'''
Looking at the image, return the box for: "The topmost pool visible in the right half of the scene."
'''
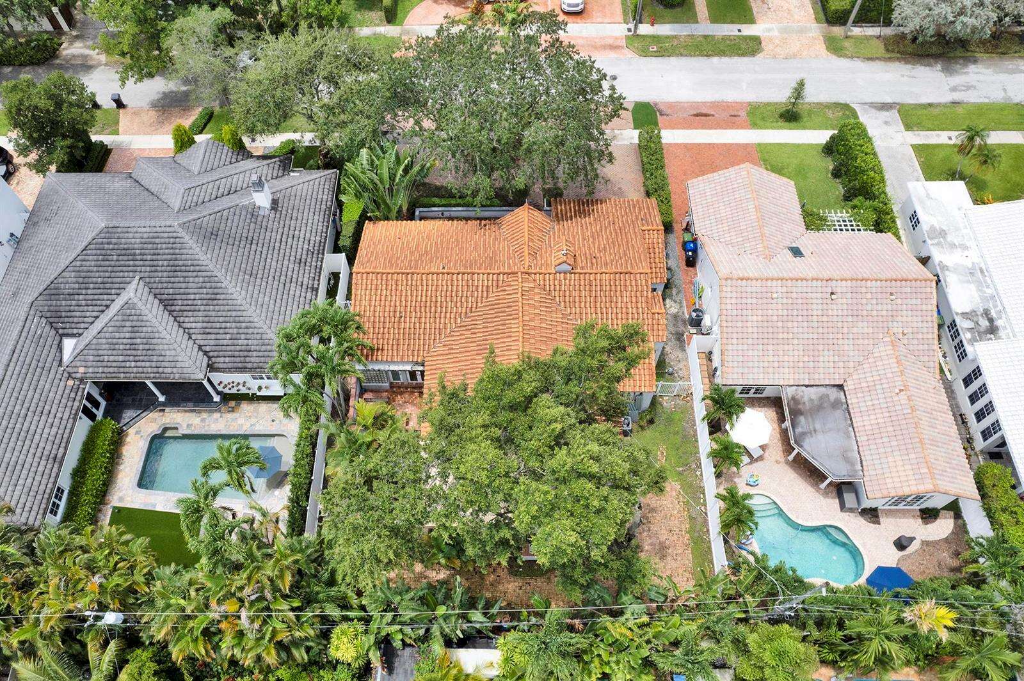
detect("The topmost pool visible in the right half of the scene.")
[741,488,869,587]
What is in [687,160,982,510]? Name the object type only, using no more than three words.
house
